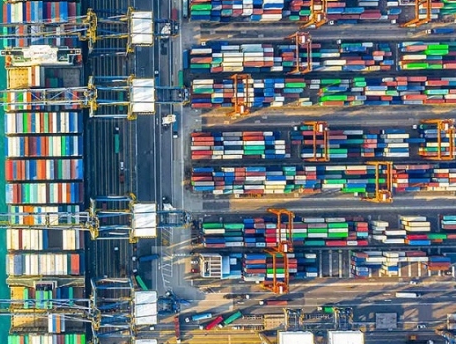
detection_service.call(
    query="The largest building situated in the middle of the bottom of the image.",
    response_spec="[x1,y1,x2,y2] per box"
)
[202,254,222,278]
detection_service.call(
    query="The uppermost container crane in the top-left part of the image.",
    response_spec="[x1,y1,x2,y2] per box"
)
[0,6,183,68]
